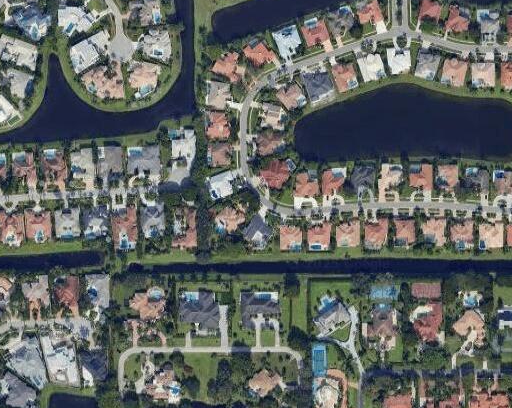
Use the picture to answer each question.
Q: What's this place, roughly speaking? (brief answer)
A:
residential area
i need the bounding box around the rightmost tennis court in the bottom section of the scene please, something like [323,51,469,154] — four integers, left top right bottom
[412,283,442,298]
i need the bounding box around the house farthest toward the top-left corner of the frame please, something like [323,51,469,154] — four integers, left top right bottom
[8,0,51,37]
